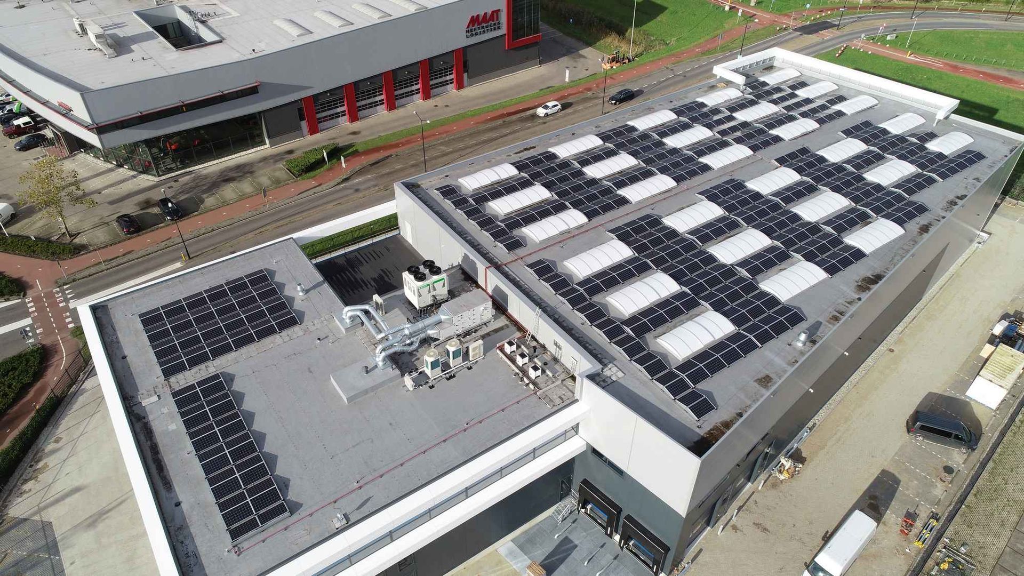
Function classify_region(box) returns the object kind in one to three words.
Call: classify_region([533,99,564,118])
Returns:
car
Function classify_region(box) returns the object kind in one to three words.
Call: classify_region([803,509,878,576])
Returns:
van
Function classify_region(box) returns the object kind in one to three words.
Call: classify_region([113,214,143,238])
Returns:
car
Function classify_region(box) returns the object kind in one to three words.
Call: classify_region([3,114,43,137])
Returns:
vehicle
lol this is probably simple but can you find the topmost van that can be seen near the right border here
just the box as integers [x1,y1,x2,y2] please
[908,404,980,451]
